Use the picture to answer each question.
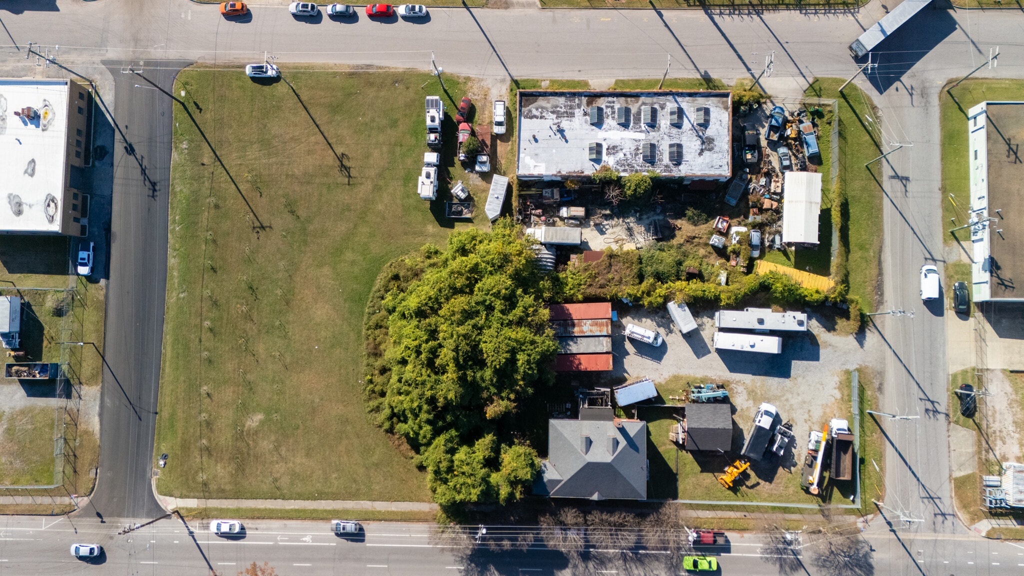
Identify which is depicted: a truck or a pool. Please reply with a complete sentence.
There is a truck in the scene.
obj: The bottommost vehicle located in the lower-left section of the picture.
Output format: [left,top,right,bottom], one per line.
[71,543,103,558]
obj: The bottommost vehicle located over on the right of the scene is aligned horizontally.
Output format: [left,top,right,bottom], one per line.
[683,556,717,572]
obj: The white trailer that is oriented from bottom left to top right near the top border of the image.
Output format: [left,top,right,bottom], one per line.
[853,0,930,58]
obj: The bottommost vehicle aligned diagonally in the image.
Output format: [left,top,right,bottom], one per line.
[719,458,750,487]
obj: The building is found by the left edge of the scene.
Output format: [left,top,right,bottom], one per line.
[0,79,89,238]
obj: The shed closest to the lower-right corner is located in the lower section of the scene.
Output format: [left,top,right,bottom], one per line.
[994,461,1024,506]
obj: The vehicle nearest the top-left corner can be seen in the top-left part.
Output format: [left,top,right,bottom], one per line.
[220,1,248,16]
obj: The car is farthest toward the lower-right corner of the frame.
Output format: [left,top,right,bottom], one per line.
[959,385,976,414]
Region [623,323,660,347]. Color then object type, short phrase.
white vehicle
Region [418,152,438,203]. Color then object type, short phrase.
white vehicle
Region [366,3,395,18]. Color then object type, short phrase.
red car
